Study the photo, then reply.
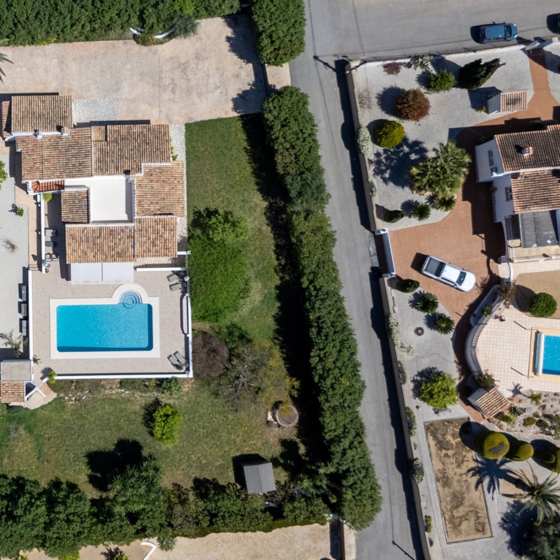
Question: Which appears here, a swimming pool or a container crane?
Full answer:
It is a swimming pool that can be seen here.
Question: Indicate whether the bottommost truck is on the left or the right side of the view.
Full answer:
It is on the right.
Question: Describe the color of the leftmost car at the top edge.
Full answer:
In this view, the leftmost car at the top edge is blue.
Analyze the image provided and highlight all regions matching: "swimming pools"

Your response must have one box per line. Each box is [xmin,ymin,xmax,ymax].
[50,284,159,359]
[529,328,560,383]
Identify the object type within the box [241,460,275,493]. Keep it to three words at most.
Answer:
shed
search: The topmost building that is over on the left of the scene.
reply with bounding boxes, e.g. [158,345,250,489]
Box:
[1,94,186,264]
